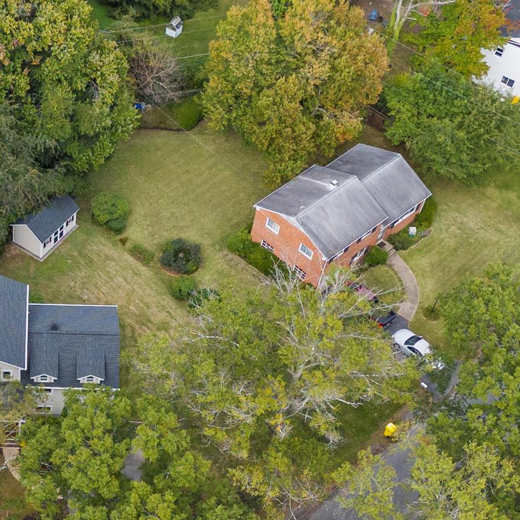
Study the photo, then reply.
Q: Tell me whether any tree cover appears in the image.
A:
Yes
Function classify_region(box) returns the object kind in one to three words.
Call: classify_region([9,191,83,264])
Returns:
shed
